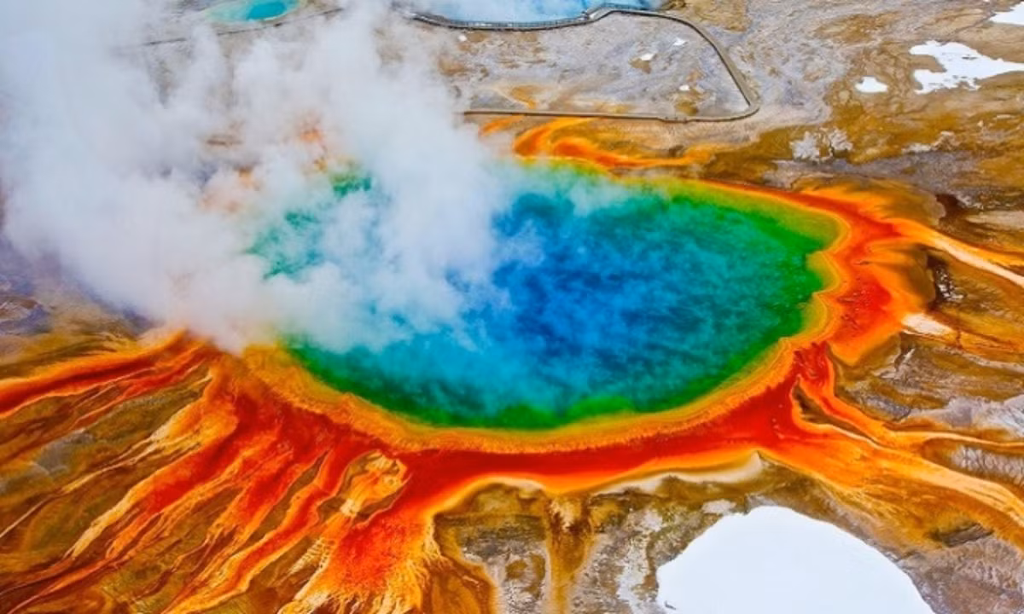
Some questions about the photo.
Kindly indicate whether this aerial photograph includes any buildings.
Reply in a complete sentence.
No, there isn't any building down there.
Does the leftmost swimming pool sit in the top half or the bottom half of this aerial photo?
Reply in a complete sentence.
The top half of the photo is where the leftmost swimming pool is.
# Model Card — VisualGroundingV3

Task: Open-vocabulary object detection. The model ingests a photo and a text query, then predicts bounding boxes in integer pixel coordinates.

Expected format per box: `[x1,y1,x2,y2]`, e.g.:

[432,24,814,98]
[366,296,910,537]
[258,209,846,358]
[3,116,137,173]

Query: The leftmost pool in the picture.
[201,0,301,23]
